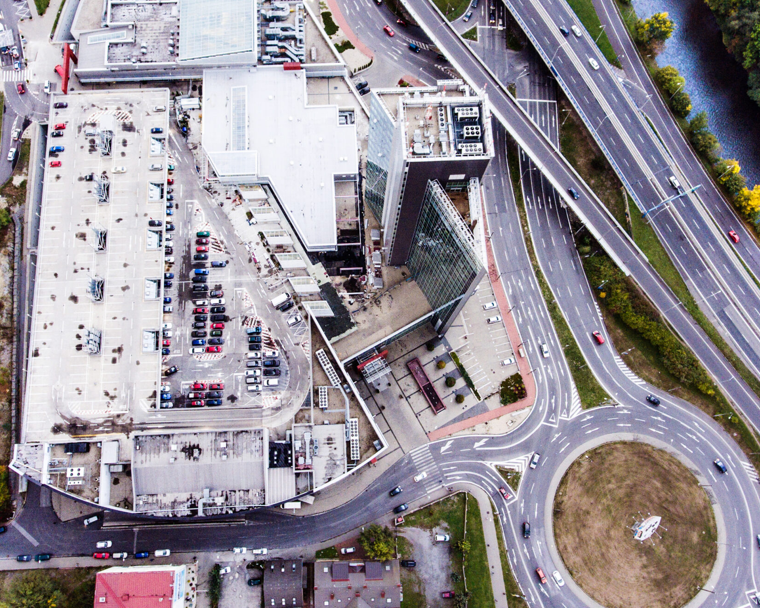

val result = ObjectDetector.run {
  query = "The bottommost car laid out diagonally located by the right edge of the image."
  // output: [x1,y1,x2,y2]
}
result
[714,458,728,474]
